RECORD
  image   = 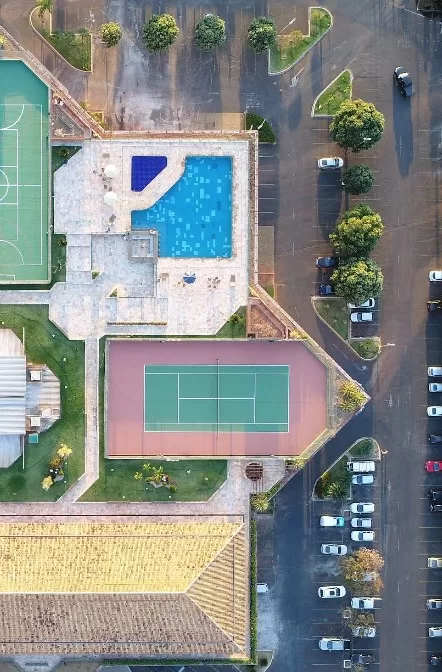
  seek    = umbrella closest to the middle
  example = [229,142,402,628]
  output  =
[183,272,197,285]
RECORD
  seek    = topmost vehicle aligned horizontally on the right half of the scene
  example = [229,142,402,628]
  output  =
[317,156,344,169]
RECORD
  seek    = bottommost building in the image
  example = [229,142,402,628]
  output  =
[0,514,249,658]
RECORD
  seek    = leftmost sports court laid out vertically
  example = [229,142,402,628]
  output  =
[0,55,50,280]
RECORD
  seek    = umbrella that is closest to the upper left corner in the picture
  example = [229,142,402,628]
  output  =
[104,165,118,179]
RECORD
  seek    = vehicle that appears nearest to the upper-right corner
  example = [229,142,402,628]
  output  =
[392,66,415,99]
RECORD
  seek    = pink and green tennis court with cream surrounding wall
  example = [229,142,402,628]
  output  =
[102,339,334,463]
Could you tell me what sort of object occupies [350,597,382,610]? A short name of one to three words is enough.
vehicle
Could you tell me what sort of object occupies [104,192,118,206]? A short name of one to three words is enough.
umbrella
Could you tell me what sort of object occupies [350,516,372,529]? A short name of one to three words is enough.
vehicle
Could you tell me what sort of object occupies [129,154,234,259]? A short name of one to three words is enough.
swimming pool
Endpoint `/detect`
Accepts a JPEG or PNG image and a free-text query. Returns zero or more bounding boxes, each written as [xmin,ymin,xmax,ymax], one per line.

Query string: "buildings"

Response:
[0,328,30,469]
[0,514,249,658]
